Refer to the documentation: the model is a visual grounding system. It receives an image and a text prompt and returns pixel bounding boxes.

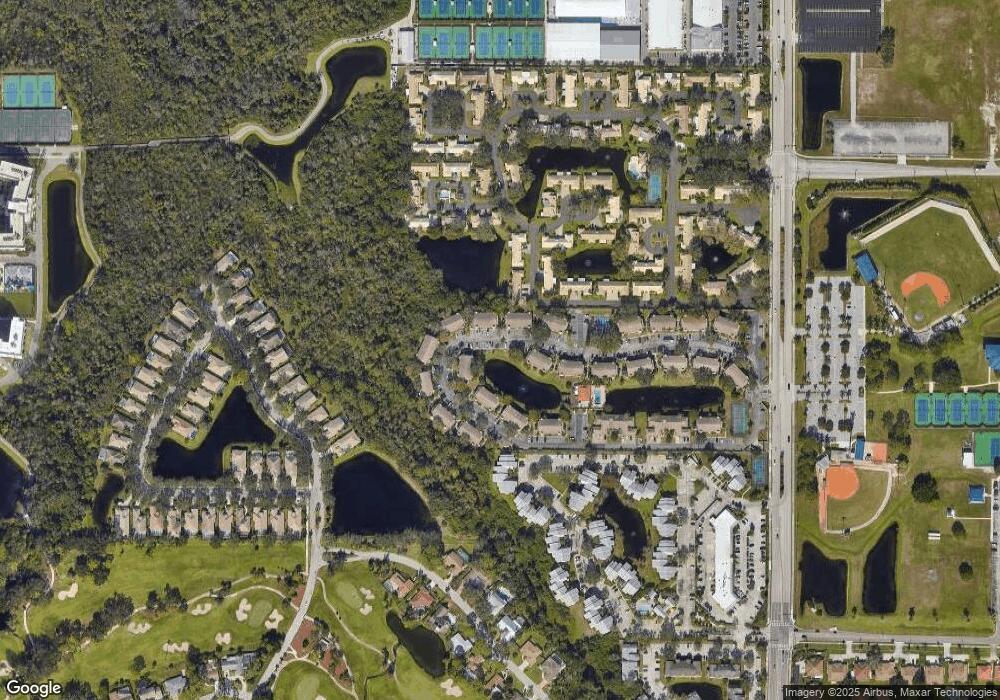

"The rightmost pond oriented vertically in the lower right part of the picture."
[861,525,897,614]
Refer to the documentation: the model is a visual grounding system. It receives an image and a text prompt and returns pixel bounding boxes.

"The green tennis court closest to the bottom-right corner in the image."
[976,432,1000,466]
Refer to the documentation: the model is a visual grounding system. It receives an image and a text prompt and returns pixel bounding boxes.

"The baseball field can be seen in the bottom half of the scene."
[826,466,892,534]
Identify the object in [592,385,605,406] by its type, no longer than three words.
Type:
swimming pool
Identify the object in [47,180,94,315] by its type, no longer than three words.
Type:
pond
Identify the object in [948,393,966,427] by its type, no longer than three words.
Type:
tennis court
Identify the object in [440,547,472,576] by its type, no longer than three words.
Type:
house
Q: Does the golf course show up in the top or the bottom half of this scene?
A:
bottom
